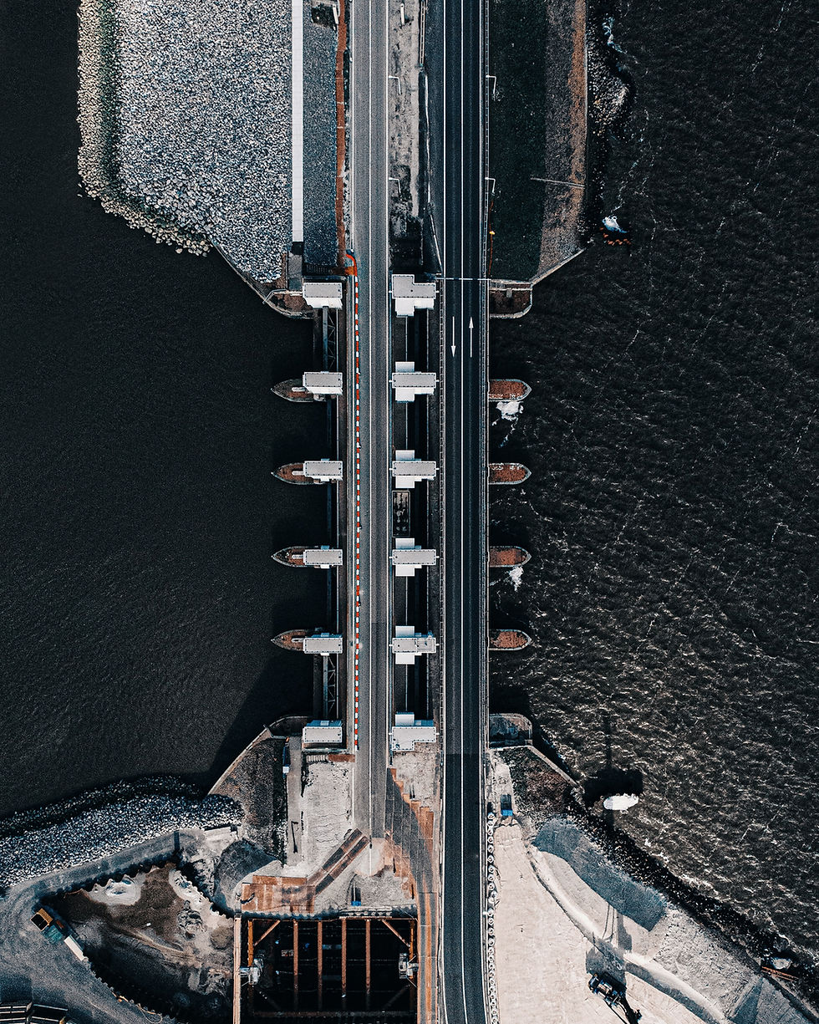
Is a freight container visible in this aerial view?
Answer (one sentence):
Yes, the frame does contain a freight container.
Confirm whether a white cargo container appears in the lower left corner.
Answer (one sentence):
Yes, looking in the lower left corner, one can make out a white cargo container.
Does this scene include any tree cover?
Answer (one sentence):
No, there's no tree cover in this view.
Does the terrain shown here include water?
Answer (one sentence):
Yes, water shows up in the scene.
